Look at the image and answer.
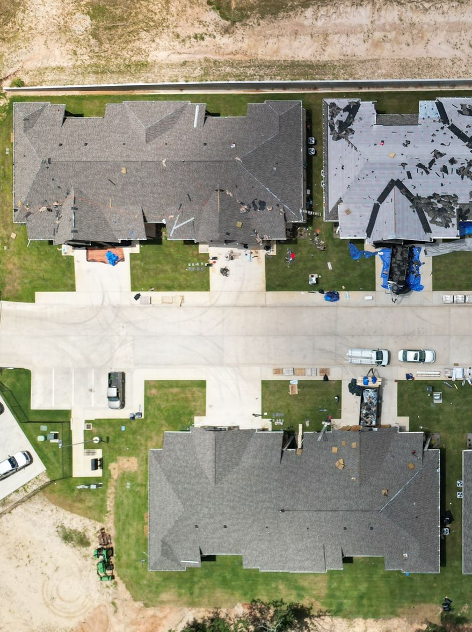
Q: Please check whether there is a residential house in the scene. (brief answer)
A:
Yes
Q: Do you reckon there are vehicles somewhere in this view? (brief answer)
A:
Yes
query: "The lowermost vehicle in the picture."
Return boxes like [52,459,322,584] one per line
[94,544,114,579]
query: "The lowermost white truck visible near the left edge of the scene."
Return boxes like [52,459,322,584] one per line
[0,448,37,479]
